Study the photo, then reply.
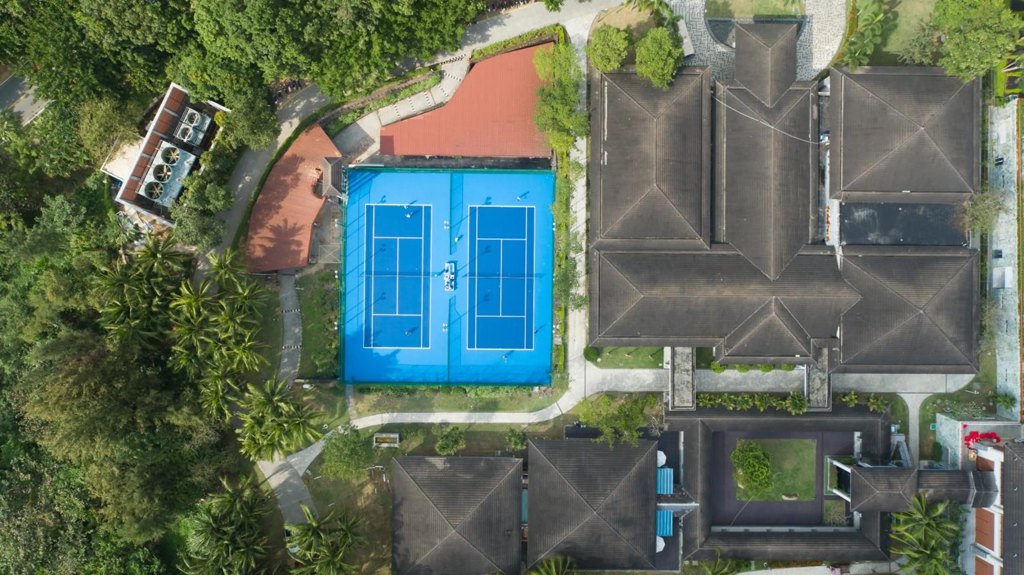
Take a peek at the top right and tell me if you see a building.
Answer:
Yes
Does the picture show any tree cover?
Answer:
Yes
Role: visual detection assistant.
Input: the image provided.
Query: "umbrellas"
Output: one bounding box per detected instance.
[656,536,665,553]
[657,450,667,469]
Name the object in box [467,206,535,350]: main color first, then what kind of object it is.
blue tennis court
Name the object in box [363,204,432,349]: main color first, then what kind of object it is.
blue tennis court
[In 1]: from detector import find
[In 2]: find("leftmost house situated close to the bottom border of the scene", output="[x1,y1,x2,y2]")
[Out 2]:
[391,457,522,575]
